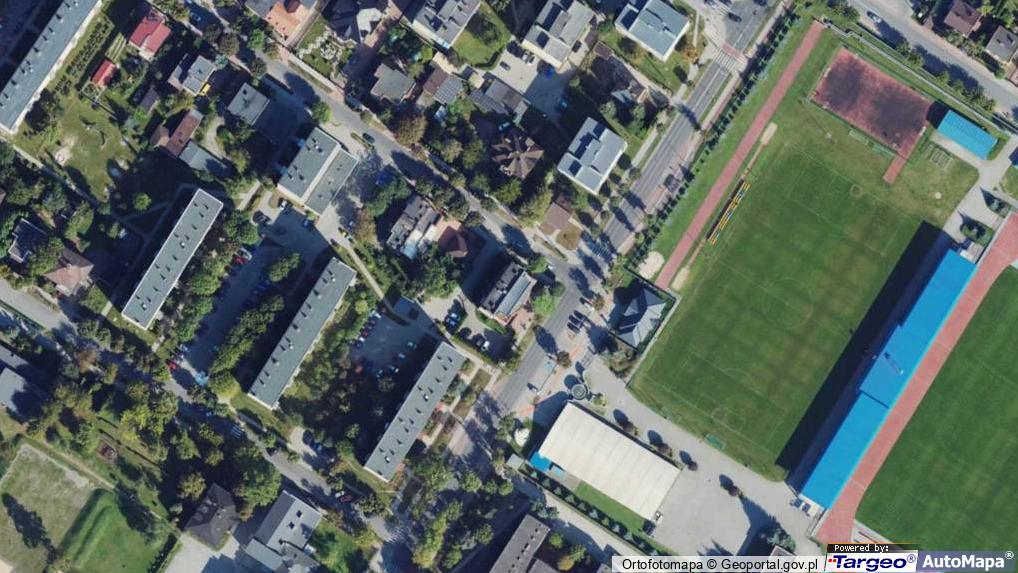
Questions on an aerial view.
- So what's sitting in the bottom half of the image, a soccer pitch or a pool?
soccer pitch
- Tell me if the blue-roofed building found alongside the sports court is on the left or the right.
right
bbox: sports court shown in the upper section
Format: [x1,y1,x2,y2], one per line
[808,47,933,184]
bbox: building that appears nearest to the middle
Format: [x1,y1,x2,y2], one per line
[479,262,536,326]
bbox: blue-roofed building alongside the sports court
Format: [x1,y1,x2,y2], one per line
[936,109,997,161]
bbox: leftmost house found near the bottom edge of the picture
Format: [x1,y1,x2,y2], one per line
[186,483,237,551]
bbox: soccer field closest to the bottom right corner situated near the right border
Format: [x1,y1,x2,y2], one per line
[855,264,1018,573]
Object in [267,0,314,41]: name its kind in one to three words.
building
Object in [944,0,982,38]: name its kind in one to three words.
house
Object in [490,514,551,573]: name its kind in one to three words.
building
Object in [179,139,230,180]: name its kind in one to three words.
shed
